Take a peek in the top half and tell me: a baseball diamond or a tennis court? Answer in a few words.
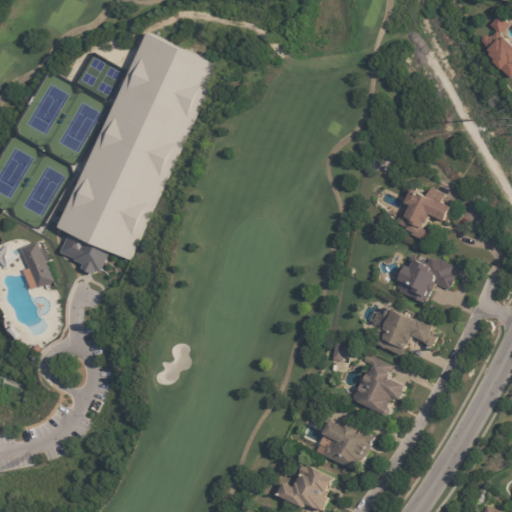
tennis court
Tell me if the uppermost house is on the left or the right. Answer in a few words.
right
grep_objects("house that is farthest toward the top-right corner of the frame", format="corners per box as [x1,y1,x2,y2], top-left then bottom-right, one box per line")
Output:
[480,18,512,83]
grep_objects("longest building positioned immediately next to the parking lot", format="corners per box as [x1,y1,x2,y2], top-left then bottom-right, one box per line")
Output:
[61,32,214,258]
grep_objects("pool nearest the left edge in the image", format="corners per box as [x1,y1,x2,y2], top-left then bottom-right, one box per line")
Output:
[0,240,63,347]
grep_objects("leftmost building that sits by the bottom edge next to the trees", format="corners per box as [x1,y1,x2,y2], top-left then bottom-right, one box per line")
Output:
[275,463,338,512]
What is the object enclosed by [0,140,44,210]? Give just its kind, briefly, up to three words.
tennis court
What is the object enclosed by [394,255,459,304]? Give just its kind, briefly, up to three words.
house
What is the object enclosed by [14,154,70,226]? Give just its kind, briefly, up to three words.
tennis court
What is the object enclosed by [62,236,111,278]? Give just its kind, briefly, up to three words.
building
